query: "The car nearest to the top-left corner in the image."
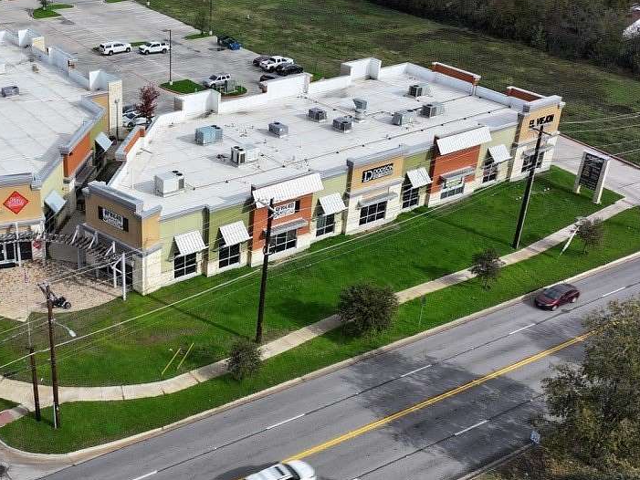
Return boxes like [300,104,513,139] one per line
[97,40,130,55]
